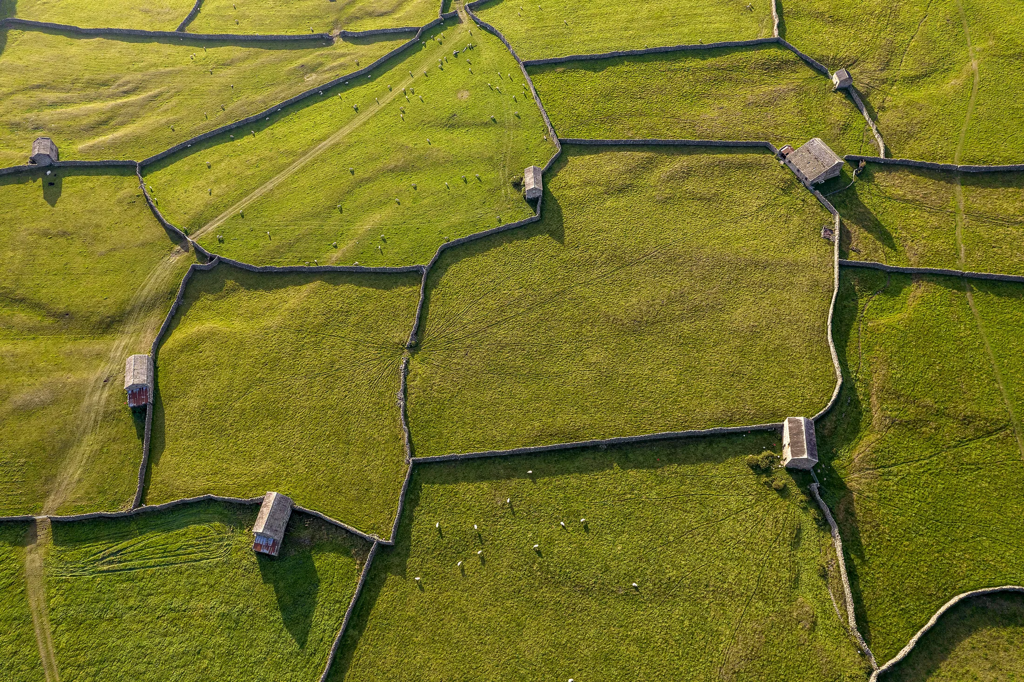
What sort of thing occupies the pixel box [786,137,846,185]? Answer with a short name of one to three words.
barn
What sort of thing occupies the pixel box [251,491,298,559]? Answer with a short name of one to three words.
barn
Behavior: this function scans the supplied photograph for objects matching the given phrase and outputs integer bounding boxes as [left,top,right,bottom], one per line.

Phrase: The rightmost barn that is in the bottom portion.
[782,415,819,470]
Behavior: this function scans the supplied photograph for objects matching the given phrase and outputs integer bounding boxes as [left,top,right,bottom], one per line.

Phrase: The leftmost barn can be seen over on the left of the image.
[31,136,57,164]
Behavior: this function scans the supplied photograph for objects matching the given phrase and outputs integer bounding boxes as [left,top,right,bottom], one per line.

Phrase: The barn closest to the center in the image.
[524,165,543,198]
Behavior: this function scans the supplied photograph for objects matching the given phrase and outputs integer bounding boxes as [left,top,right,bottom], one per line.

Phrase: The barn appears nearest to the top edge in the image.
[833,68,853,89]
